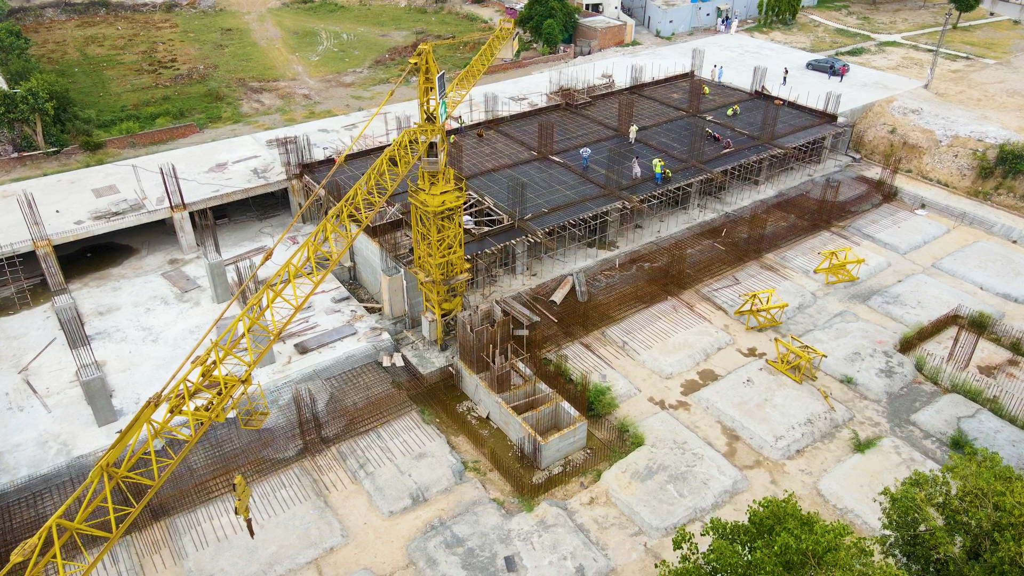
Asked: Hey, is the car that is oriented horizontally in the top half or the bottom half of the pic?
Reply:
top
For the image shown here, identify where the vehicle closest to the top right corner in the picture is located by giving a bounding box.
[806,57,852,77]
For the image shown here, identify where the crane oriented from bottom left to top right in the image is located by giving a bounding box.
[1,4,520,576]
